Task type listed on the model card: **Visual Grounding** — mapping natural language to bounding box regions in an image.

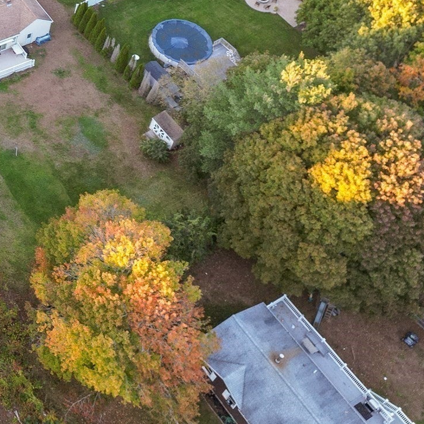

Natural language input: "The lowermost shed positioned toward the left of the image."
[149,109,190,150]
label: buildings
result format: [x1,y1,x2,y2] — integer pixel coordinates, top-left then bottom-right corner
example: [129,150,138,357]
[146,58,171,91]
[213,292,421,424]
[149,109,190,150]
[0,0,54,80]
